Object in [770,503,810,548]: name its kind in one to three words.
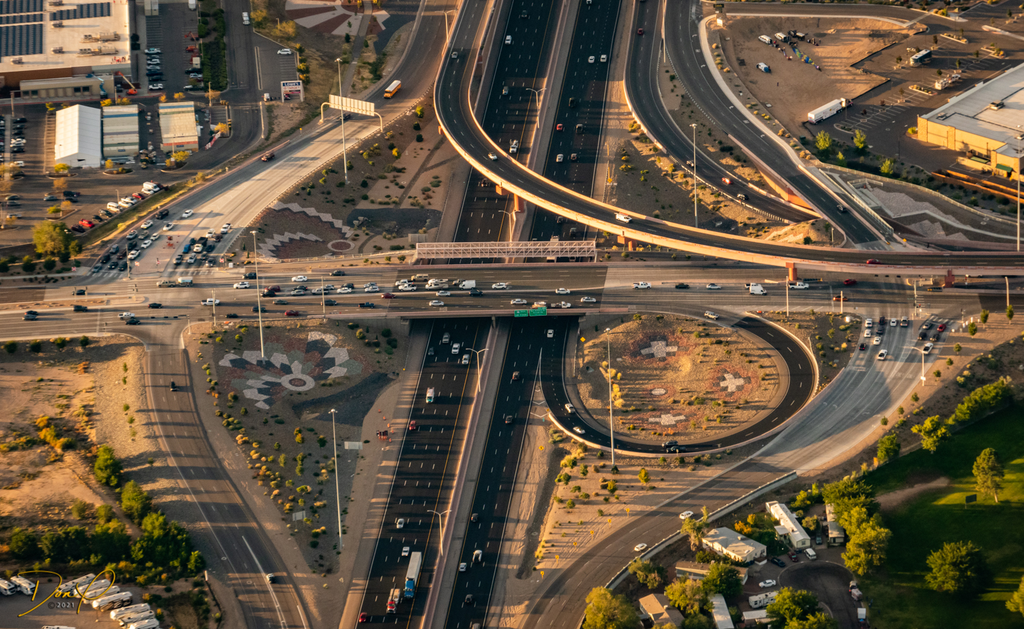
house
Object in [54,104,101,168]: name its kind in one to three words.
tent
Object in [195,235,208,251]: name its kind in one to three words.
vehicle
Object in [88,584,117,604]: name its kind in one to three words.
camper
